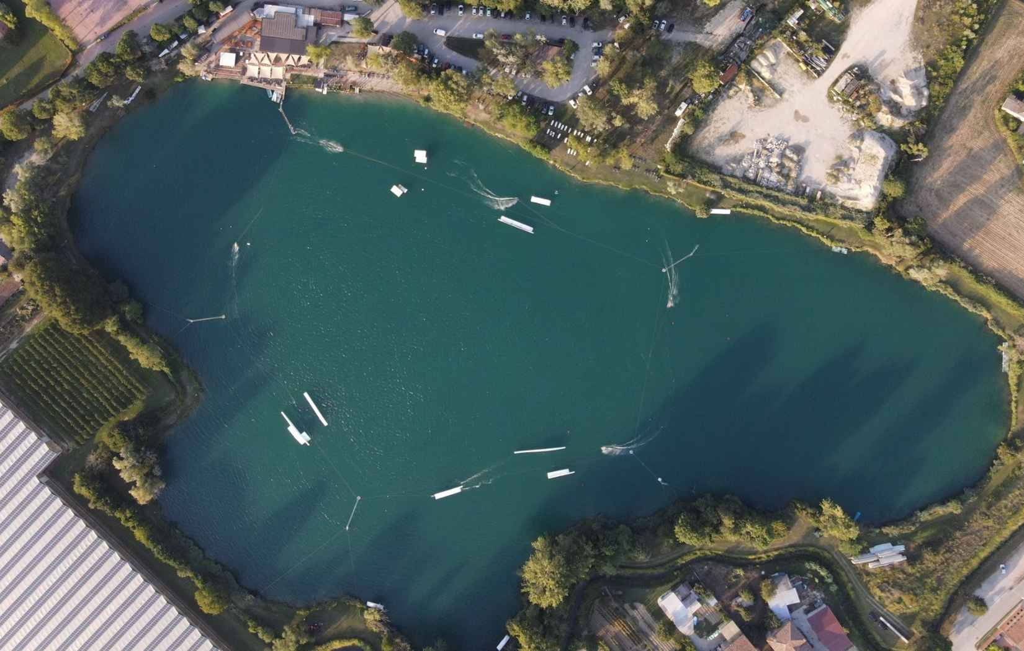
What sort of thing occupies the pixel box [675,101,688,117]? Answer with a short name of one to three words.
vehicle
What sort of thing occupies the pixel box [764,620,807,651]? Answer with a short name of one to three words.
house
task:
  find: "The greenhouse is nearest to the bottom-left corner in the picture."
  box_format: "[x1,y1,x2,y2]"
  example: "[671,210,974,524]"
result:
[0,392,228,651]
